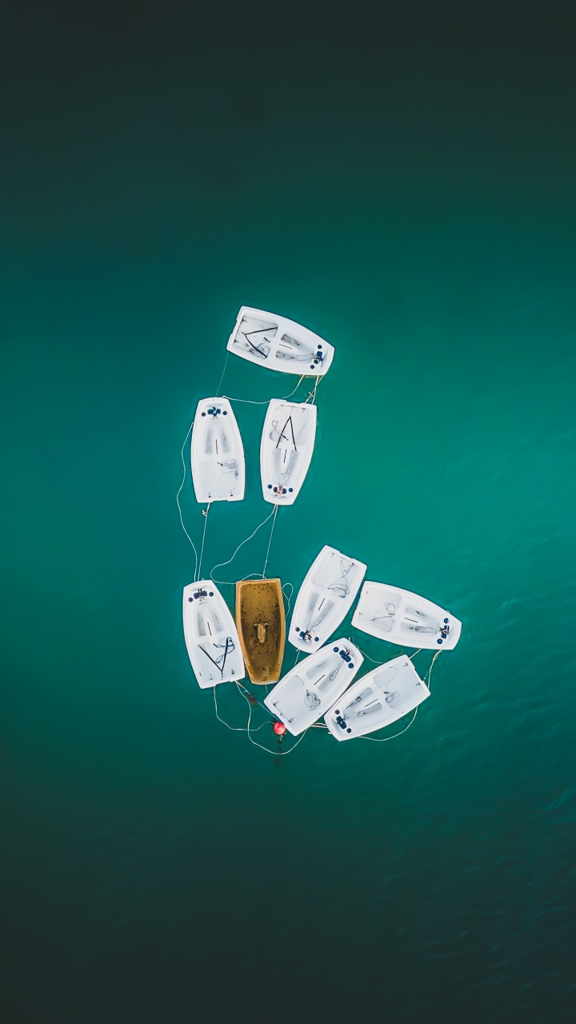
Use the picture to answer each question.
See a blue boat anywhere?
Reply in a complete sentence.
No, there is no blue boat in the image.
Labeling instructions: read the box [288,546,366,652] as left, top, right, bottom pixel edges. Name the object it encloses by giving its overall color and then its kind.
white boat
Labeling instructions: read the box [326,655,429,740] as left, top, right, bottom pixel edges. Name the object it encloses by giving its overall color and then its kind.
white boat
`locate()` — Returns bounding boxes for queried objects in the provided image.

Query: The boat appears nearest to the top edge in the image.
[228,307,333,376]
